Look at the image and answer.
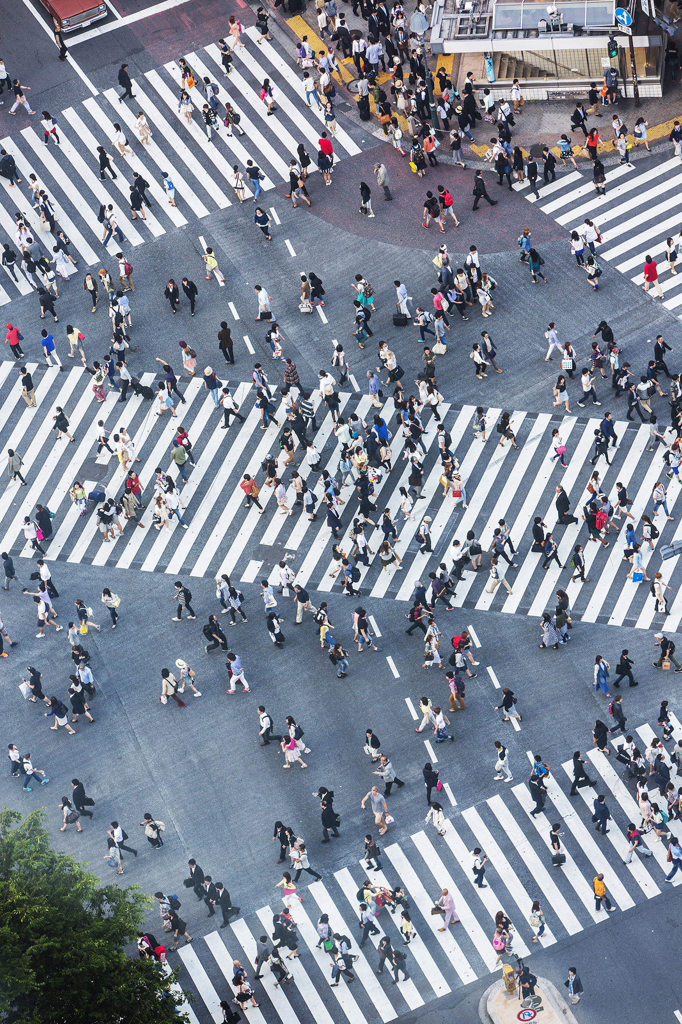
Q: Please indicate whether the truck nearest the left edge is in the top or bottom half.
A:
top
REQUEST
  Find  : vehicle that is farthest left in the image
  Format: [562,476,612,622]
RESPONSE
[43,0,107,33]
